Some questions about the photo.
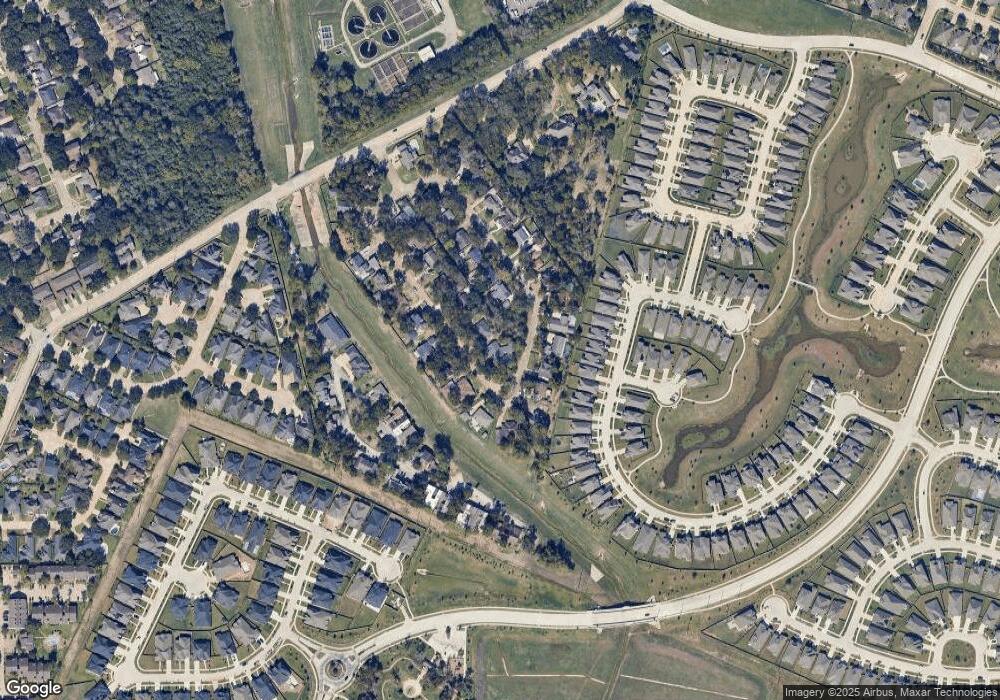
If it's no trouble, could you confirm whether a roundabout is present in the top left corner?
No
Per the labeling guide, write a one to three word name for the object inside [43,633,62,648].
swimming pool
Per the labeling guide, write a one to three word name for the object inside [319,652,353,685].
roundabout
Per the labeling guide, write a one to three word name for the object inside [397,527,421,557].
house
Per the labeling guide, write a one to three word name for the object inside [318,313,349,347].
building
